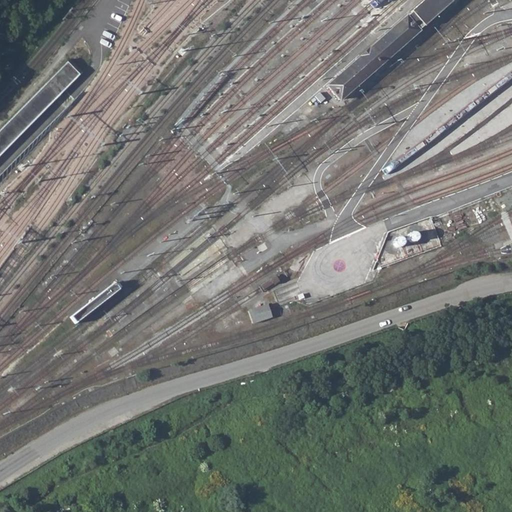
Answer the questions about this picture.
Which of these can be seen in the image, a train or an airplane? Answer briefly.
train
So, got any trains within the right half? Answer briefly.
Yes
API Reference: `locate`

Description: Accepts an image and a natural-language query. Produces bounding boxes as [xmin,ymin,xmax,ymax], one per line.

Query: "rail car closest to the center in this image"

[262,276,282,291]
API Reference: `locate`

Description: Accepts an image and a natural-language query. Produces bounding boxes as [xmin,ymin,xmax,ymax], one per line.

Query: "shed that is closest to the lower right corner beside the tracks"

[250,303,274,323]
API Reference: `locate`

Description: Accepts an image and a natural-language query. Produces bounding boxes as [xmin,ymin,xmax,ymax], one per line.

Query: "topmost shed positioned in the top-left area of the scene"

[0,62,84,158]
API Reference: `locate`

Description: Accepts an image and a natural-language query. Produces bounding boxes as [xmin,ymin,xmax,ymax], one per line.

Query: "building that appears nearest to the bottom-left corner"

[70,278,126,324]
